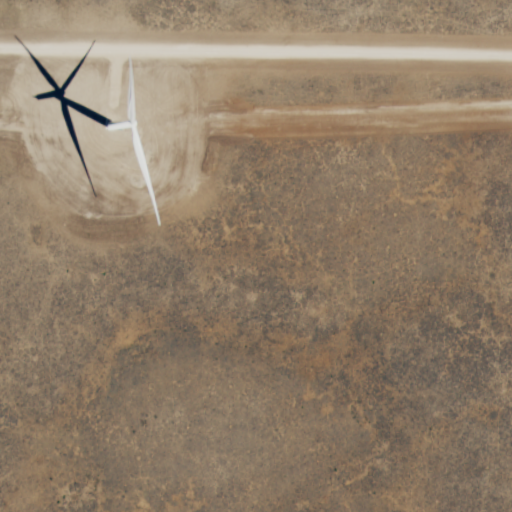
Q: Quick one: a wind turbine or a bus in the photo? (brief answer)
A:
wind turbine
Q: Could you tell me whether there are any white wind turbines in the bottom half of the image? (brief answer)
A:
No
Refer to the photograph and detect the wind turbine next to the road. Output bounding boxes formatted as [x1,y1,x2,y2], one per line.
[106,58,160,226]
